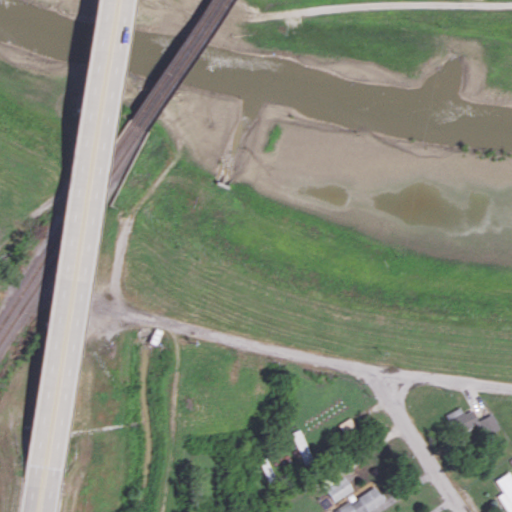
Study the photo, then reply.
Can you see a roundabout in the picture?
No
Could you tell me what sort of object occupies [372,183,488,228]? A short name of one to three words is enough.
pond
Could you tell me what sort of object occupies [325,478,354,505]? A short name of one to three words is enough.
house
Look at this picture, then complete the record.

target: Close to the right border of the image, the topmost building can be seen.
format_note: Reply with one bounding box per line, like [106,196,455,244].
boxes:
[446,408,500,437]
